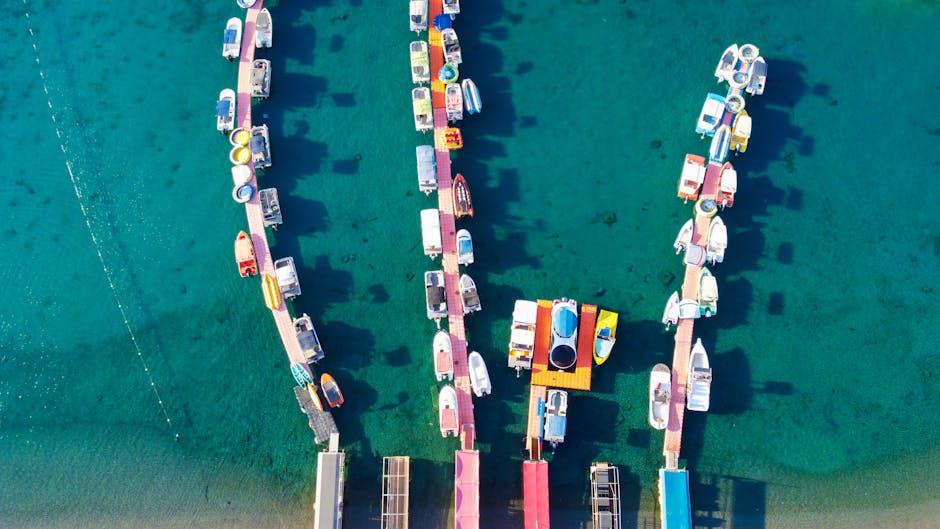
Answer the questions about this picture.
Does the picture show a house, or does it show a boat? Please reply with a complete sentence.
Visible in the photo is a boat.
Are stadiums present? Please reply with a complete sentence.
No, I find no stadium anywhere in the image.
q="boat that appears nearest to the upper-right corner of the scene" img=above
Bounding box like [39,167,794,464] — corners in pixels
[744,55,770,104]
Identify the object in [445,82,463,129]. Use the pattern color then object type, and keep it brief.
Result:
white boat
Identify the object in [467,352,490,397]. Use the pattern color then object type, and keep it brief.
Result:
white boat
